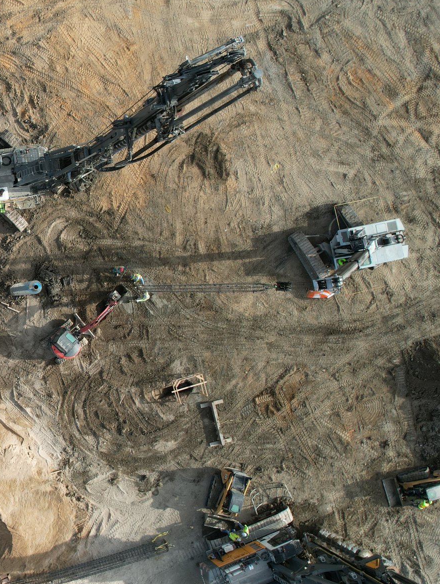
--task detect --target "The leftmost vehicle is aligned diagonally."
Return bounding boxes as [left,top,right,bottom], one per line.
[39,290,121,366]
